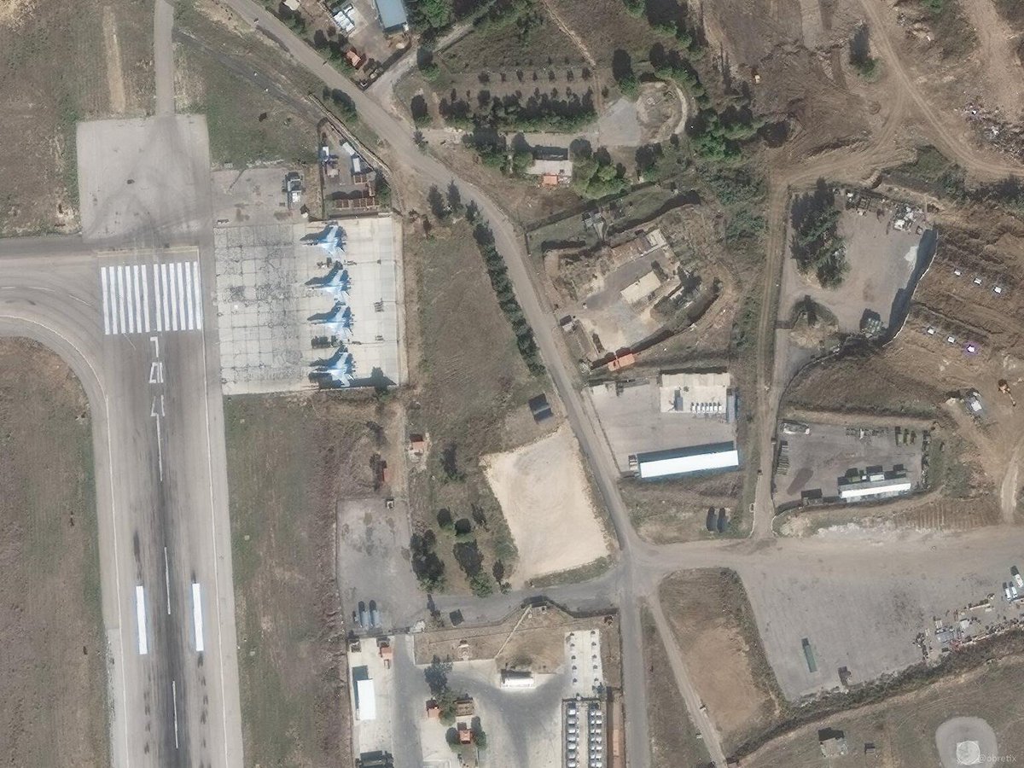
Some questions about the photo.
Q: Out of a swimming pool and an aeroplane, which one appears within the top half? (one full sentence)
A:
Looking within the top half, you will find an aeroplane.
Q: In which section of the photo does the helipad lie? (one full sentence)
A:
The helipad appears toward the bottom right of the photo.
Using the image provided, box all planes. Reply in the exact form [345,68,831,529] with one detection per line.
[309,354,359,387]
[300,227,349,259]
[304,270,353,302]
[307,307,356,339]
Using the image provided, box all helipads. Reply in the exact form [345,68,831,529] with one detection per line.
[936,717,998,768]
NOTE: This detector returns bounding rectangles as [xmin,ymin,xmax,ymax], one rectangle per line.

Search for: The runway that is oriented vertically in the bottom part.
[90,242,243,768]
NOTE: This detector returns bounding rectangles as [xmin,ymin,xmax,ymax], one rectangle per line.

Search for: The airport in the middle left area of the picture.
[0,0,407,768]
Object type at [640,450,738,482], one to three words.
hangar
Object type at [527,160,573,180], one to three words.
house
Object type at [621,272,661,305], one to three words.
building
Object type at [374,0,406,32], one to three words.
building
